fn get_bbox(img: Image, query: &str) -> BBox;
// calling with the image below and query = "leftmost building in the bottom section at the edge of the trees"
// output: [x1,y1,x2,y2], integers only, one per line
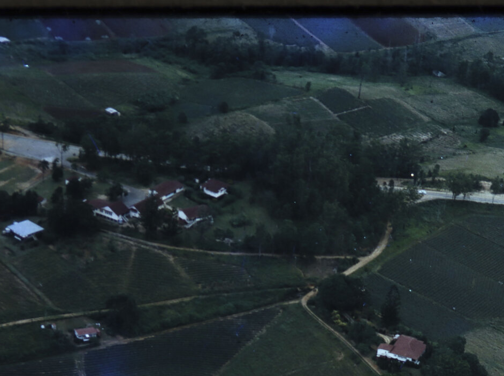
[7,218,48,241]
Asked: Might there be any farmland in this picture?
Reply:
Yes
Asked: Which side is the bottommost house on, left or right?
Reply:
right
